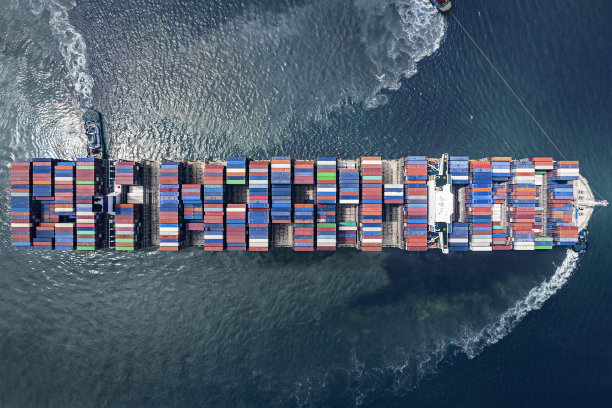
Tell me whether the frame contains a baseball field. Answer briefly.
No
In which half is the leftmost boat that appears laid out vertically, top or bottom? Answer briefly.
top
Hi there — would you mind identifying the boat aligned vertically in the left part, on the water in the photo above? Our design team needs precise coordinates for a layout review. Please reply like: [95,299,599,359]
[84,106,106,159]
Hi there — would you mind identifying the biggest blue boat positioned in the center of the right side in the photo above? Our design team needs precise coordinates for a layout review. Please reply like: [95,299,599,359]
[570,225,592,253]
